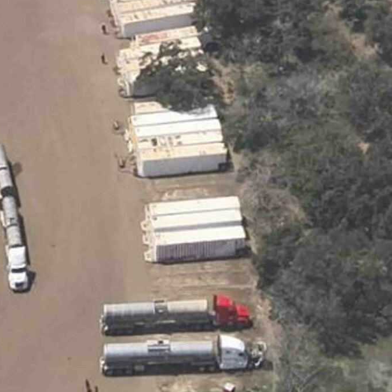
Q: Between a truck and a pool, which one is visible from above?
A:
truck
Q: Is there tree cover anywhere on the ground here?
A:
Yes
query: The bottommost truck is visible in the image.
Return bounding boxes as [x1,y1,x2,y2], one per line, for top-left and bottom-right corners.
[102,336,262,371]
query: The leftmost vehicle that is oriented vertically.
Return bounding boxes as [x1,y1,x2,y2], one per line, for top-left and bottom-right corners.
[0,146,30,293]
